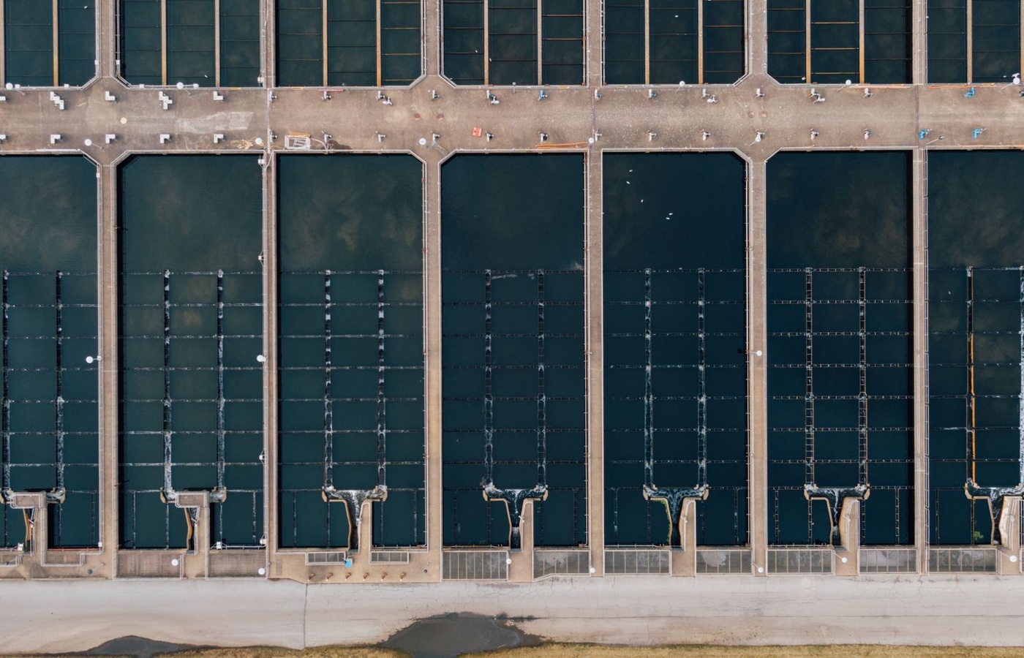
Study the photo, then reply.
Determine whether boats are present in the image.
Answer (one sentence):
No, no boat is visible in the view.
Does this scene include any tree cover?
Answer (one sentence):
No, there is no tree cover in the image.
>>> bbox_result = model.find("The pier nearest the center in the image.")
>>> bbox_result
[522,500,535,551]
